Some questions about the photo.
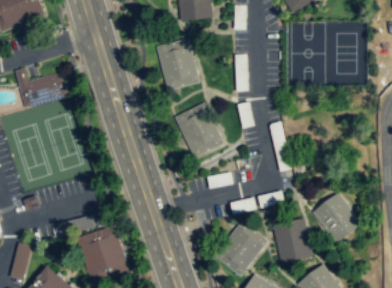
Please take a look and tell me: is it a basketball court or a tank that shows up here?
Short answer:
basketball court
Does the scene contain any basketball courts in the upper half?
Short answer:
Yes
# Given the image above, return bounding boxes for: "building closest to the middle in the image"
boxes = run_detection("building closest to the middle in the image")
[176,104,226,158]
